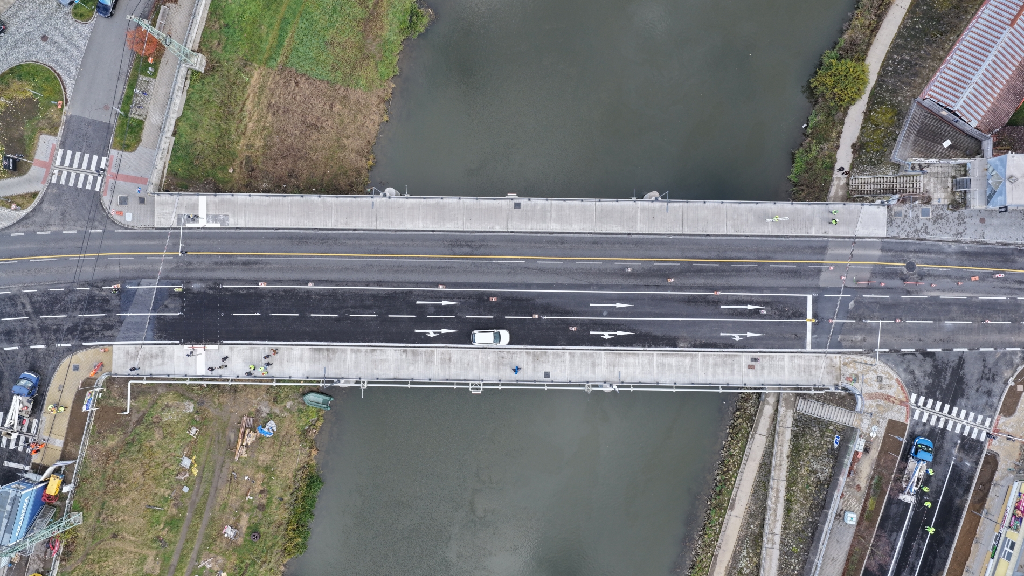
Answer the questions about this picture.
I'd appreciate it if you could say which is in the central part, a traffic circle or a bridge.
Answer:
bridge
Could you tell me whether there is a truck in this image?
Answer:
Yes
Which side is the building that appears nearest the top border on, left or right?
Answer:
right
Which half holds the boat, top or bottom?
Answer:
bottom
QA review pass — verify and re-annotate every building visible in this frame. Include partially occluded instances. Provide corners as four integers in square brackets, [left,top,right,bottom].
[914,0,1024,135]
[953,153,1024,210]
[966,472,1024,576]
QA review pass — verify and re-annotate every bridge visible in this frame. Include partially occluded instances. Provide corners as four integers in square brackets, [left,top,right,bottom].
[106,182,901,394]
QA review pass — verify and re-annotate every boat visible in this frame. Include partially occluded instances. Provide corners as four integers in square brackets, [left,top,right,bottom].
[302,392,334,414]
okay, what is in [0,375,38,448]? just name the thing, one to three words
truck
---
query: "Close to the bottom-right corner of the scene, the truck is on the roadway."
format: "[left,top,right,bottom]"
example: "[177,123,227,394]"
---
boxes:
[897,439,942,513]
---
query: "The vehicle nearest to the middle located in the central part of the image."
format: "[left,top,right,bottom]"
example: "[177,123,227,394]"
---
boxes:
[471,329,509,348]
